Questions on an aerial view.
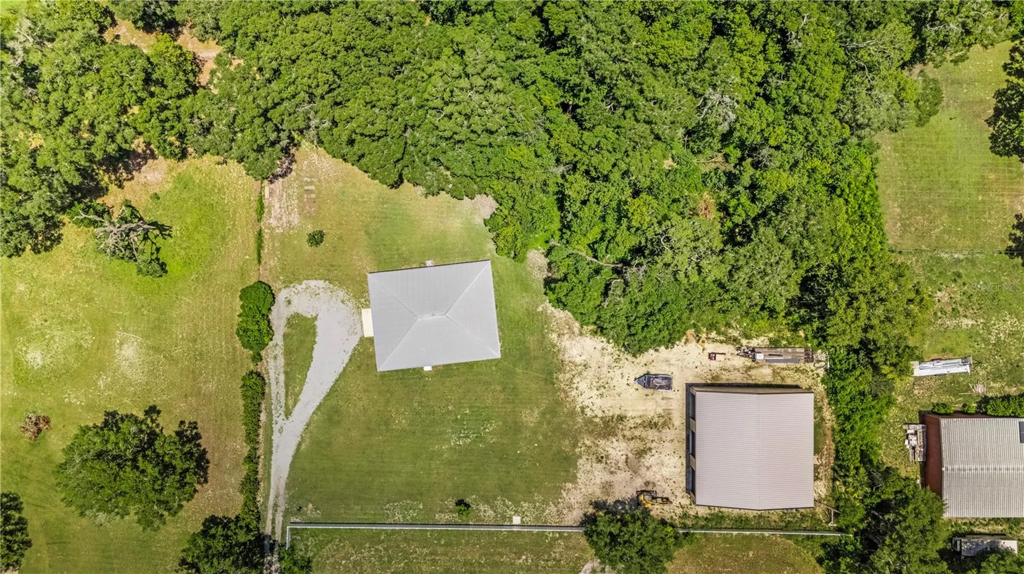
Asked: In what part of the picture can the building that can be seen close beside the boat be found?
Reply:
bottom right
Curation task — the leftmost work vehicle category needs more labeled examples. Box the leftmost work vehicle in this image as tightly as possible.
[637,491,671,507]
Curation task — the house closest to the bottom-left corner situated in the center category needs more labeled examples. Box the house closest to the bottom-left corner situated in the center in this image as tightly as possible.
[368,260,501,372]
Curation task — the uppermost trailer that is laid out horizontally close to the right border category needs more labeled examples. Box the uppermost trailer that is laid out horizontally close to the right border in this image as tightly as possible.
[914,357,984,376]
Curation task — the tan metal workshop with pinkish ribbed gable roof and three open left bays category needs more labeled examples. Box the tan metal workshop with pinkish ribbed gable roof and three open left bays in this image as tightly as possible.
[685,387,814,510]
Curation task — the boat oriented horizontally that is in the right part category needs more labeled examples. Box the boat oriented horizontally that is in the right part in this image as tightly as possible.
[635,375,672,391]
